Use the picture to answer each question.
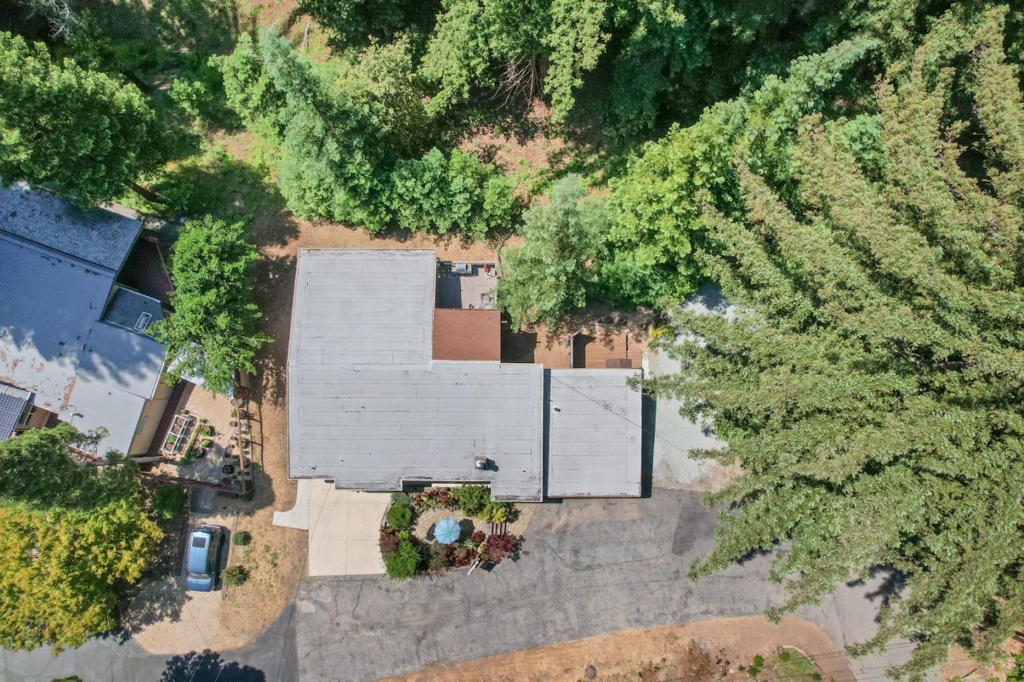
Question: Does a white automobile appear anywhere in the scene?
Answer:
No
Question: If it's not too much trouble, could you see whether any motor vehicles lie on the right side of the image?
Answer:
No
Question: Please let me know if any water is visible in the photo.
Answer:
No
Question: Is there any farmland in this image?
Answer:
No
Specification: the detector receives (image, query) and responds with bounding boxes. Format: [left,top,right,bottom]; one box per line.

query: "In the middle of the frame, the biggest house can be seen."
[286,248,543,503]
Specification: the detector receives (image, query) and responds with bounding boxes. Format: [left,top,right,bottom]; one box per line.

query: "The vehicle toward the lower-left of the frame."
[184,524,221,590]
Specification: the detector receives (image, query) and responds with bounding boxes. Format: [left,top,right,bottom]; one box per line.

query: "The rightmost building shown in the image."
[547,368,642,498]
